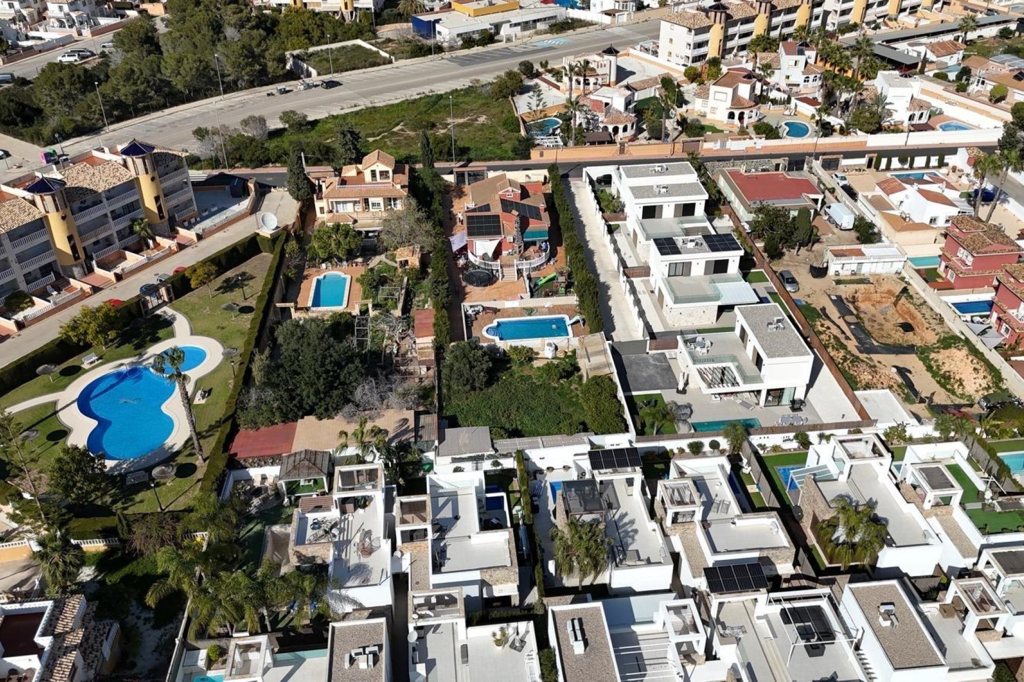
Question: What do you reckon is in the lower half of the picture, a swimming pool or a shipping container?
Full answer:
It is a swimming pool that can be seen in the lower half of the picture.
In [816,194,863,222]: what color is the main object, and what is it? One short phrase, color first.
white van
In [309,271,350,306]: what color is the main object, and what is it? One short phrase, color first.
blue swimming pool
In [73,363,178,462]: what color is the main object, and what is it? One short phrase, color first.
blue swimming pool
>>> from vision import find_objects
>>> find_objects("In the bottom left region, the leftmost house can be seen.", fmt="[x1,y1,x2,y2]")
[0,601,117,682]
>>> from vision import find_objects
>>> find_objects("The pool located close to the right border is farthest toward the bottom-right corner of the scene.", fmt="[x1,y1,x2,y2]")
[999,449,1024,473]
